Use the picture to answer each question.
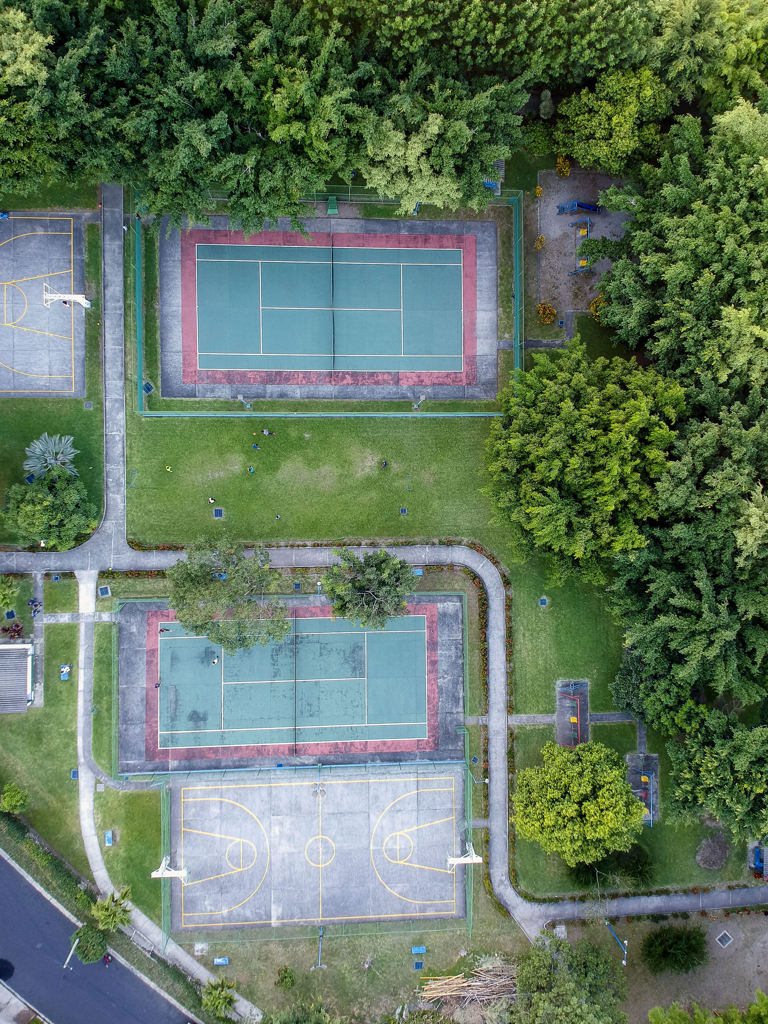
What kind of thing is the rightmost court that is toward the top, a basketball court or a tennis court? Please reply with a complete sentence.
Specifically, the rightmost court that is toward the top is a tennis court.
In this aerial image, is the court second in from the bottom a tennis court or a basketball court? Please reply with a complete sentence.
Looking closely, the court second in from the bottom is a tennis court.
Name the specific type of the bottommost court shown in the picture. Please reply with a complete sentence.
The bottommost court appears to be a basketball court.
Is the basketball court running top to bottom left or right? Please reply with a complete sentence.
It is on the left.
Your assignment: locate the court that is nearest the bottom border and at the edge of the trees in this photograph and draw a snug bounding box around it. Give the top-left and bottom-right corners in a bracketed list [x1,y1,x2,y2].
[170,766,466,934]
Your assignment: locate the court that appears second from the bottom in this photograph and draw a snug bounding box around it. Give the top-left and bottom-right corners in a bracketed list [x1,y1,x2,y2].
[118,596,465,775]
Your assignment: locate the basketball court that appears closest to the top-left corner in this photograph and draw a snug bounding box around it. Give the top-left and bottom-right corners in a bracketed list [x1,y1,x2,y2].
[0,211,86,397]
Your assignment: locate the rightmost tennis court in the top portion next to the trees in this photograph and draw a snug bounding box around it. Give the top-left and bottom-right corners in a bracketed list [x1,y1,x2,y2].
[159,216,497,399]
